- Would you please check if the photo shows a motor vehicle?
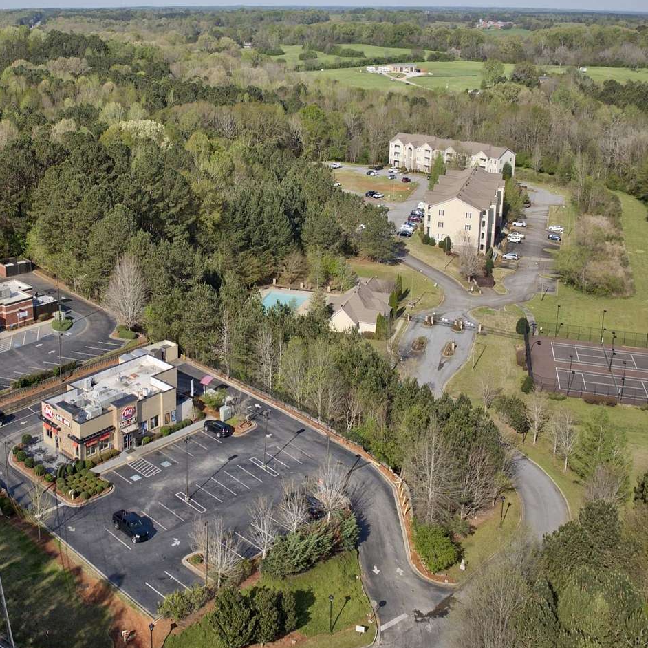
Yes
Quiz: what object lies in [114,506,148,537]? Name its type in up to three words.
truck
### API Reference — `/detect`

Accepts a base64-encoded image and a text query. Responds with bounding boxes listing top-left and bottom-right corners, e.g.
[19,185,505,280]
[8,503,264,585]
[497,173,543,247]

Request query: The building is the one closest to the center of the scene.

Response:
[321,282,386,334]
